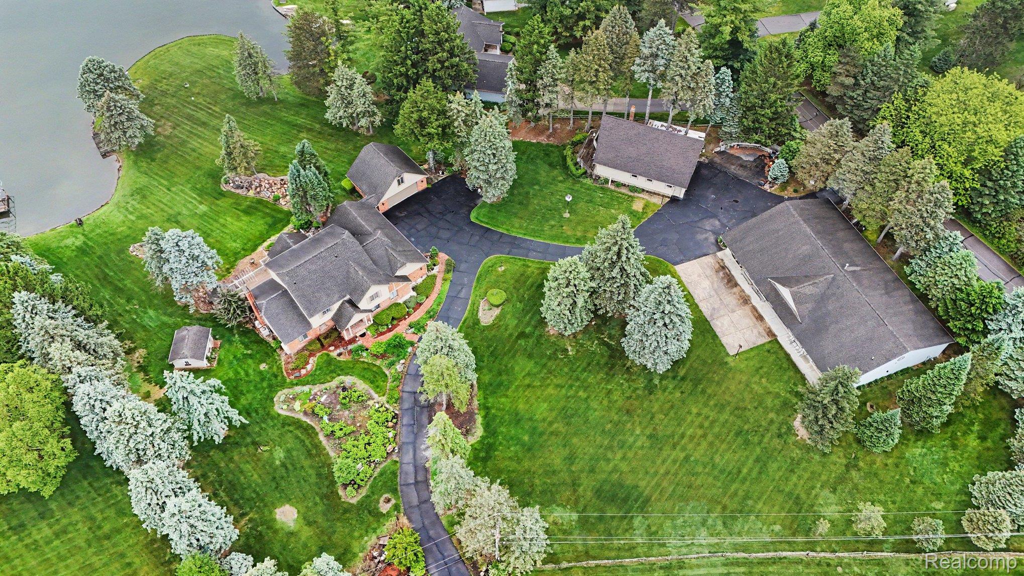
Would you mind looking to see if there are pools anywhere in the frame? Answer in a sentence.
No, there is no pool in the image.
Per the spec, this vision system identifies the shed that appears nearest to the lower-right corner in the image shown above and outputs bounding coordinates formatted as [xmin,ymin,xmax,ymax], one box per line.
[718,198,955,383]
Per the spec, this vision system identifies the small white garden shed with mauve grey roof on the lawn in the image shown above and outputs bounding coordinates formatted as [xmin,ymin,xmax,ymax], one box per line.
[170,325,215,369]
